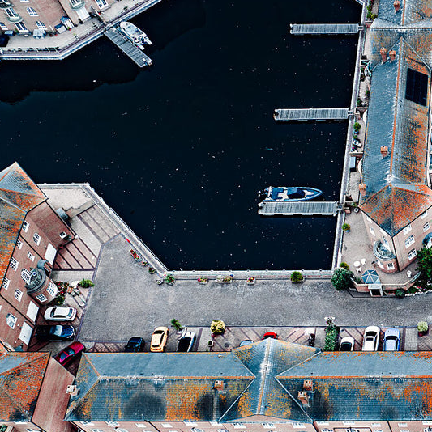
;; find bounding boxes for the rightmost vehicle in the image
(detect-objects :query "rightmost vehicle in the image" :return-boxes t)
[383,327,400,351]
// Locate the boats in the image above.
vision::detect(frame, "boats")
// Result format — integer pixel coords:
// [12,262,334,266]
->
[263,189,322,203]
[121,24,153,51]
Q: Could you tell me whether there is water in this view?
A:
Yes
